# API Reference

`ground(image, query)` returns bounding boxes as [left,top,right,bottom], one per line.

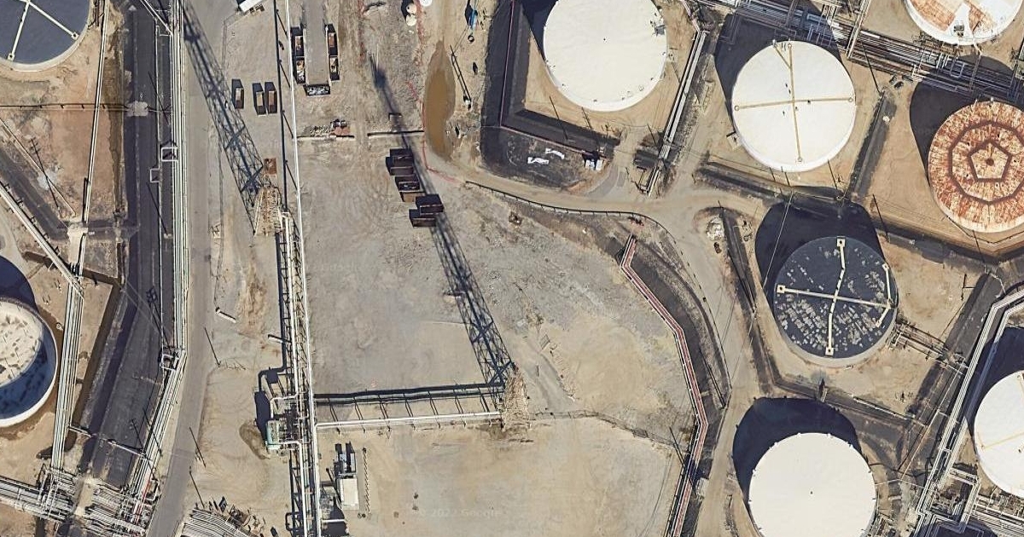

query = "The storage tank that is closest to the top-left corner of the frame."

[0,0,95,72]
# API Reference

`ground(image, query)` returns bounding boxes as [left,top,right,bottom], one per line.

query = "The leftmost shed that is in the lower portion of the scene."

[340,449,361,511]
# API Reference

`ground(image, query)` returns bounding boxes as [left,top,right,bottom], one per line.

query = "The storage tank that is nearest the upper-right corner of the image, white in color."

[901,0,1023,54]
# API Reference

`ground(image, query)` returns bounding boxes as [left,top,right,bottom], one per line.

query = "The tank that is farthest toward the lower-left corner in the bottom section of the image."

[0,295,63,436]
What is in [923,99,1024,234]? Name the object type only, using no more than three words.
storage tank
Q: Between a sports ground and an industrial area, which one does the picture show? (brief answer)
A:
industrial area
